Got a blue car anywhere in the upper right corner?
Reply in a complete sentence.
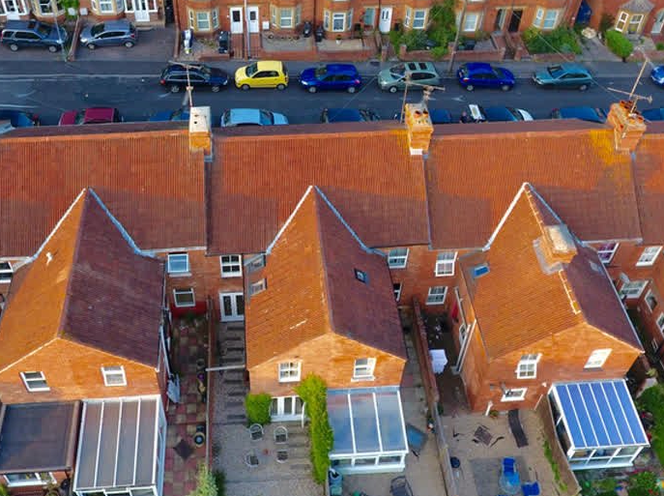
Yes, in the upper right corner there is a blue car.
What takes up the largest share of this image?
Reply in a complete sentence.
The bulk of the photo consists of buildings.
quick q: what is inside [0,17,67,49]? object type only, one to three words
car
